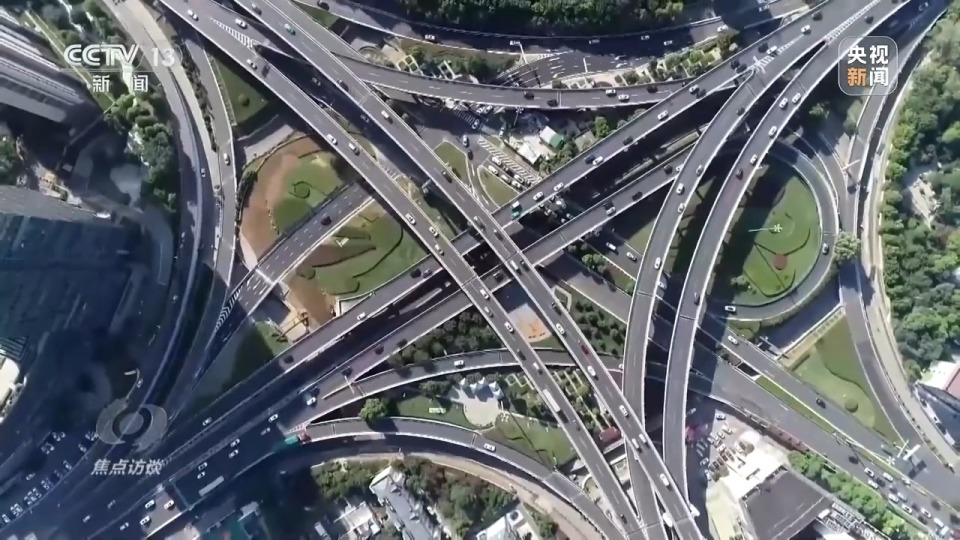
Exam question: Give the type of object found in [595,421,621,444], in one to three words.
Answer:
building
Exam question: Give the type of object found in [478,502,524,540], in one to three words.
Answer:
building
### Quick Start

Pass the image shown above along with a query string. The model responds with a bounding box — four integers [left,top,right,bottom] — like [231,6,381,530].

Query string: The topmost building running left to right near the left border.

[0,102,102,152]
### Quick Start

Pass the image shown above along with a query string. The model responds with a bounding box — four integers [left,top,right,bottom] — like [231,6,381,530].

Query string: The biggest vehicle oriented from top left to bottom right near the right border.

[935,524,954,538]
